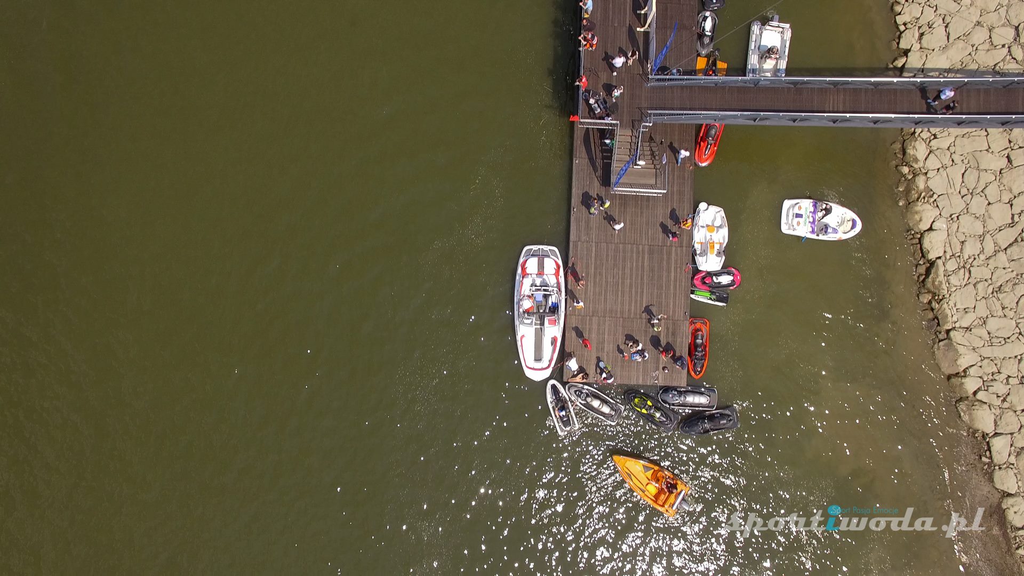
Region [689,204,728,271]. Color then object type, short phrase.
white boat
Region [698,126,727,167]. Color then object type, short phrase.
red boat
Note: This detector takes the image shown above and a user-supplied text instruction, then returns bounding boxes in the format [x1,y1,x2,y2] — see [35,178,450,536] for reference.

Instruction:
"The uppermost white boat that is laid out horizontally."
[776,200,862,242]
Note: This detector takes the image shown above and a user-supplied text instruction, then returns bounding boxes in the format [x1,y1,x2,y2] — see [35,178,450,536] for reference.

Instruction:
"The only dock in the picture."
[564,0,697,385]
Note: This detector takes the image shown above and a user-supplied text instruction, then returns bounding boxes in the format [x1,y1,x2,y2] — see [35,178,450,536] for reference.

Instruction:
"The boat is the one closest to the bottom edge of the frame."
[610,453,692,516]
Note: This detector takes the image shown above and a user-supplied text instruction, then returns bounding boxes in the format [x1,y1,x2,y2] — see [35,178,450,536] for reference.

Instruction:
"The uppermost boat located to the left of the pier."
[514,244,566,382]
